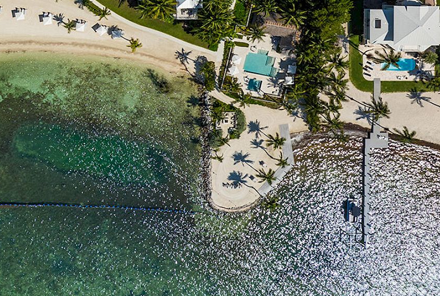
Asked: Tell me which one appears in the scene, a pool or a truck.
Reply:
pool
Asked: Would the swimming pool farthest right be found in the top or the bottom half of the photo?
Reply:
top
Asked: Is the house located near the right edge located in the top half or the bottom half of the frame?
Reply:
top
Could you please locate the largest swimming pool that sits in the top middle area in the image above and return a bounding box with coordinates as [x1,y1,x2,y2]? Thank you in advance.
[226,35,298,97]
